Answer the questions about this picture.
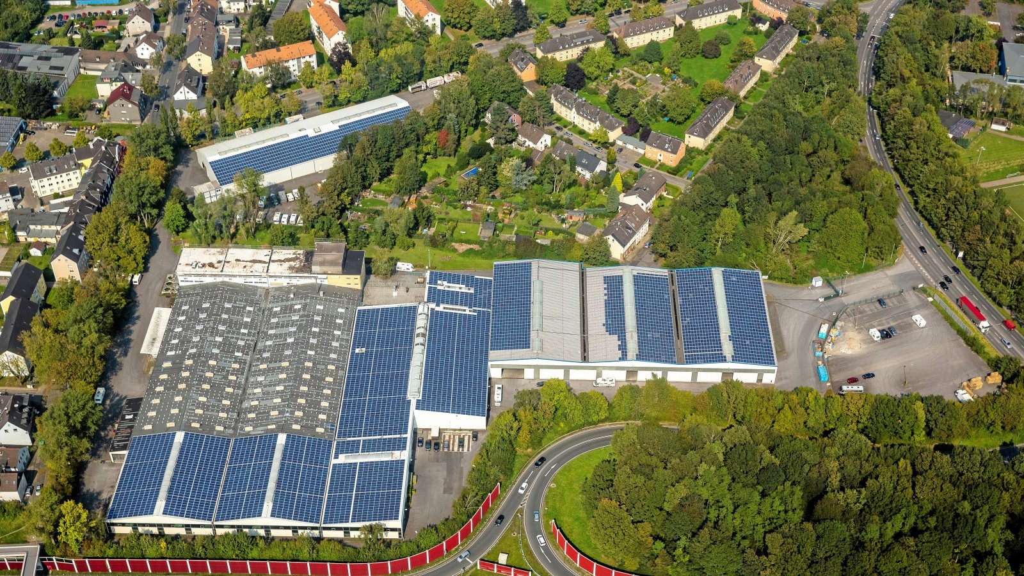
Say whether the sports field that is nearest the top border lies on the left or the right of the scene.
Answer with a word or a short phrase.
right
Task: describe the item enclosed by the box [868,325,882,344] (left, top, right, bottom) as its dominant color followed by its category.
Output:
white camper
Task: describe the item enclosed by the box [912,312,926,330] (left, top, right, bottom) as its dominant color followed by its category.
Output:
white camper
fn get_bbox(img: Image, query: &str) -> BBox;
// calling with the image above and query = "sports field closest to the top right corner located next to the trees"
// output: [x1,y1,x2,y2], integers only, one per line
[955,128,1024,182]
